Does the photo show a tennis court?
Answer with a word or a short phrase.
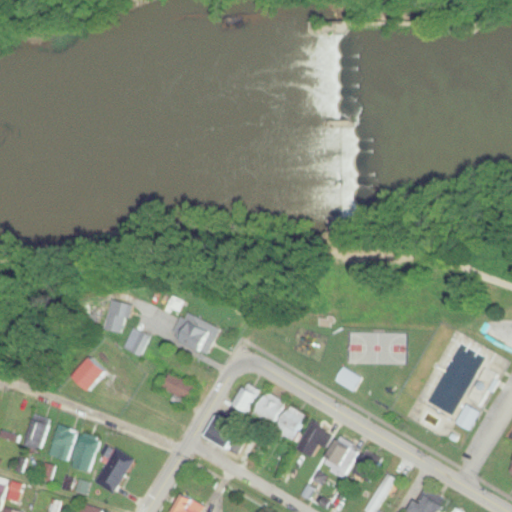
No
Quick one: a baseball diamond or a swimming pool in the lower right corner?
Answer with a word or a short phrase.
swimming pool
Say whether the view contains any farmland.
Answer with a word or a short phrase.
No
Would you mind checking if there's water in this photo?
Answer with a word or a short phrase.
Yes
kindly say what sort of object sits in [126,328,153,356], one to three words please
building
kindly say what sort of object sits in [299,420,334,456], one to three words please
house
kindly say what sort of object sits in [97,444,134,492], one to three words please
house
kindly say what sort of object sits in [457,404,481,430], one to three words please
building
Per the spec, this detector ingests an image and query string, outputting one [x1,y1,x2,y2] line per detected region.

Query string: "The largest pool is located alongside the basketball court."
[410,332,512,438]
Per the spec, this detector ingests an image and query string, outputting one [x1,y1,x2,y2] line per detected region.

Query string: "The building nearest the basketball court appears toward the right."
[336,366,364,393]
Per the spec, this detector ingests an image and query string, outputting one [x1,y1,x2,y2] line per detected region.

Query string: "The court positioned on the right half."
[348,332,408,366]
